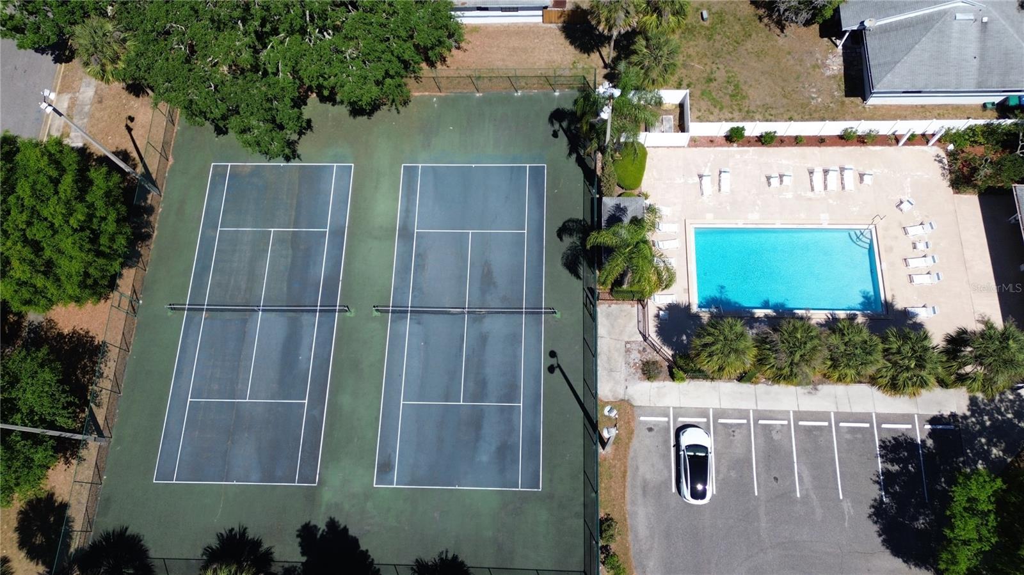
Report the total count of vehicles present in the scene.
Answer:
1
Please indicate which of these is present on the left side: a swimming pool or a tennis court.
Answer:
tennis court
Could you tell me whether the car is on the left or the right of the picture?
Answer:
right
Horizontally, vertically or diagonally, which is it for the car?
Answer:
vertically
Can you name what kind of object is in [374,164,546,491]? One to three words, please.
tennis court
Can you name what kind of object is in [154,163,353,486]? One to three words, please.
tennis court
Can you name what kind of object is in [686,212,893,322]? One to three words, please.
swimming pool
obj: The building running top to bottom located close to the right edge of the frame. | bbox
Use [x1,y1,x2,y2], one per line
[994,183,1024,253]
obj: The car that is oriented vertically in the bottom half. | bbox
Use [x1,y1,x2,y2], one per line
[678,428,714,504]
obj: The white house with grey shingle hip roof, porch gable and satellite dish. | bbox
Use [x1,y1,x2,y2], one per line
[837,0,1024,104]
